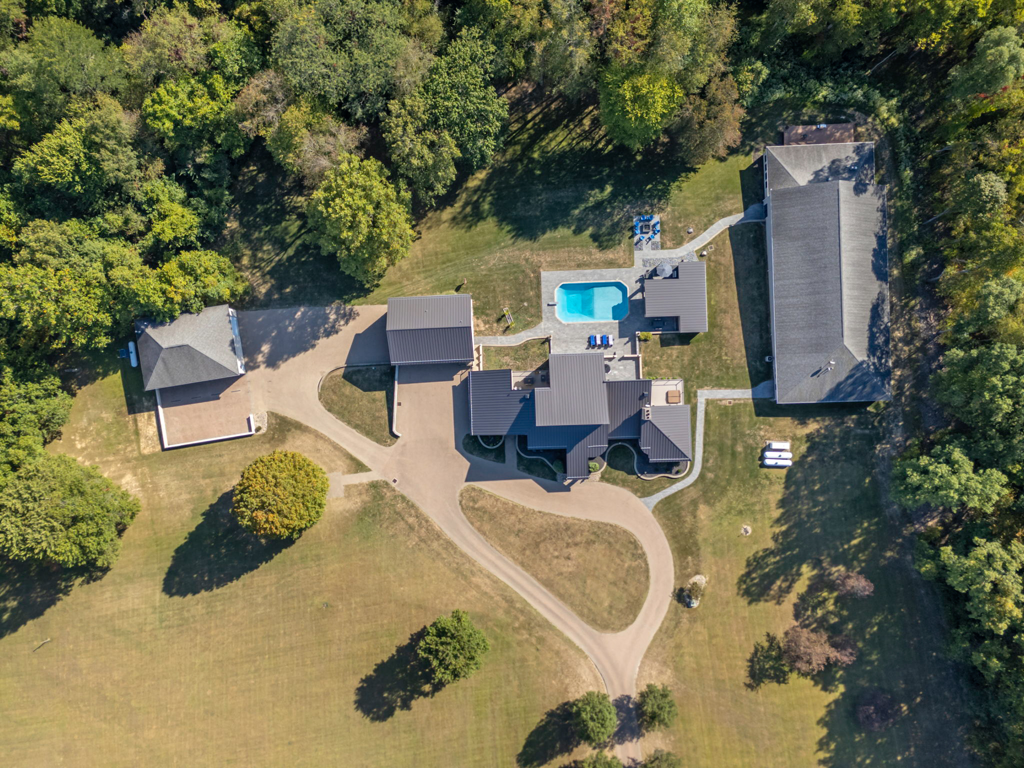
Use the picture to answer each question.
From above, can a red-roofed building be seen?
No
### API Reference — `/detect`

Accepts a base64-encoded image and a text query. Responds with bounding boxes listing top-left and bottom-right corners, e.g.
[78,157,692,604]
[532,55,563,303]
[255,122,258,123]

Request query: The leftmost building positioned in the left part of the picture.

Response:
[135,305,245,390]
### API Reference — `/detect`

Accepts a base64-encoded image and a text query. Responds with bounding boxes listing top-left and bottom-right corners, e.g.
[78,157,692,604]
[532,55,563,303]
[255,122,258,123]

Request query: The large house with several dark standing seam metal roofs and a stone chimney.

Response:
[469,353,693,479]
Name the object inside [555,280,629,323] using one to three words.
swimming pool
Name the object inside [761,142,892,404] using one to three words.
barn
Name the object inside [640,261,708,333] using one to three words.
building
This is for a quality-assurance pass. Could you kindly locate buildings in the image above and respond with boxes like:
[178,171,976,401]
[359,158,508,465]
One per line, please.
[761,142,892,404]
[640,261,708,333]
[469,353,693,479]
[386,294,475,366]
[135,305,245,390]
